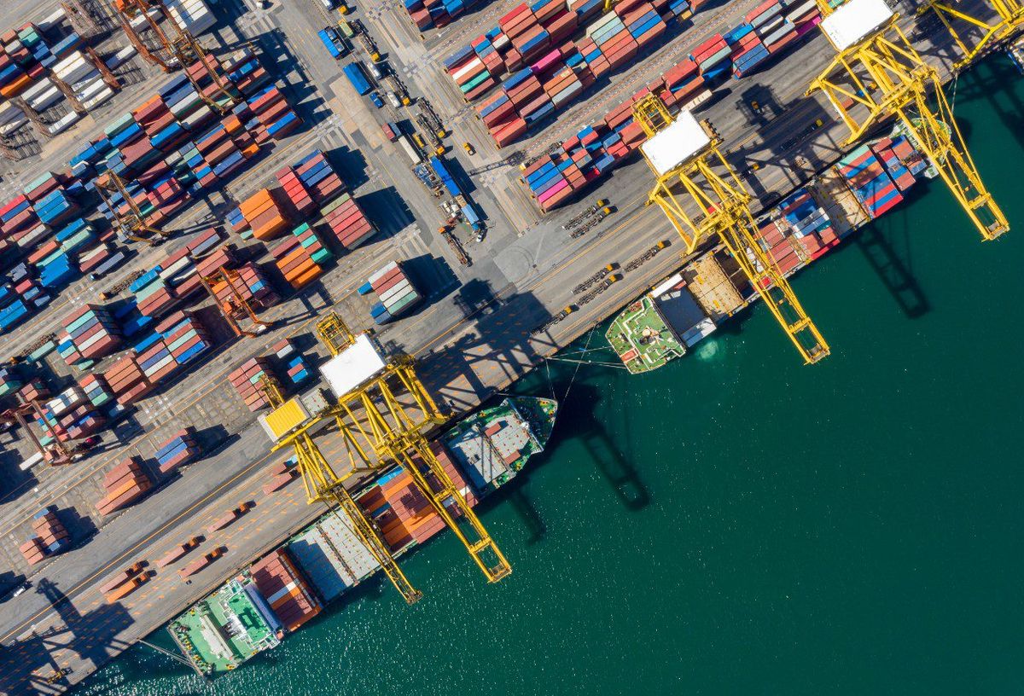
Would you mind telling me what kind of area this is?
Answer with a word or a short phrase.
port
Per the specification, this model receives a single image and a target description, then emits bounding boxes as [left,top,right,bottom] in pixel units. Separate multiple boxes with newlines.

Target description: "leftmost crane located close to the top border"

[111,0,197,87]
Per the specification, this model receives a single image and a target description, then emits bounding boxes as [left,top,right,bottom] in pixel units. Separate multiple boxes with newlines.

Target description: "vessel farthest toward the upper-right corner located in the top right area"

[999,38,1024,100]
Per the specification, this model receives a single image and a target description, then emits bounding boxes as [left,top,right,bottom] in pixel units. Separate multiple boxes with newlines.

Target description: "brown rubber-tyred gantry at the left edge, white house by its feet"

[11,396,101,467]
